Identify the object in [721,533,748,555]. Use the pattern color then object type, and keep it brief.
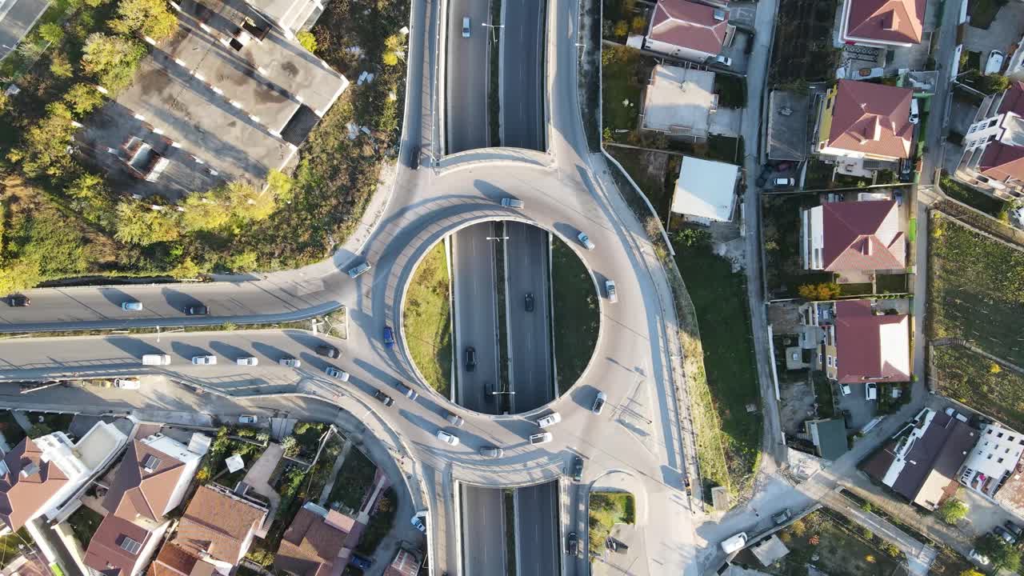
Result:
white vehicle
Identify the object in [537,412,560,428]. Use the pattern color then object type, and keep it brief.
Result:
white car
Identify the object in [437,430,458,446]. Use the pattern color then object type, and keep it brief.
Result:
white car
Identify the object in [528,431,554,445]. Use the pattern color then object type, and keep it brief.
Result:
white vehicle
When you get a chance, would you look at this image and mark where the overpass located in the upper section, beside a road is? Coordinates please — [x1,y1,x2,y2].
[438,149,562,179]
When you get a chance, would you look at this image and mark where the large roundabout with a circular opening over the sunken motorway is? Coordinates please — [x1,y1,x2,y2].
[349,166,653,468]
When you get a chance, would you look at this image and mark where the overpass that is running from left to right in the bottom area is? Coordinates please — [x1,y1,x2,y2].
[445,454,568,486]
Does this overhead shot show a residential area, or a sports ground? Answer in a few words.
residential area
